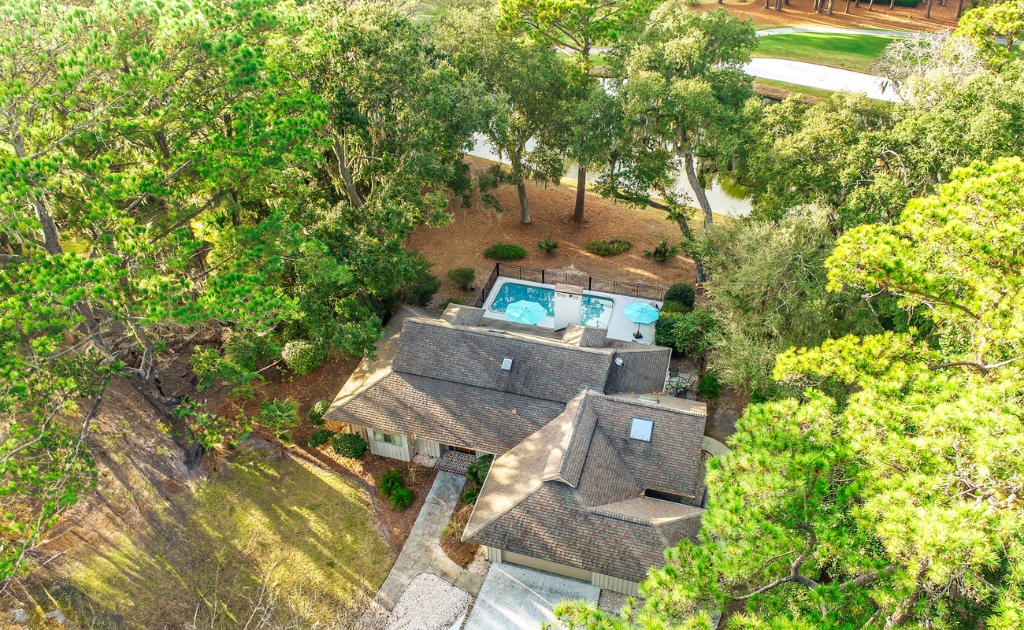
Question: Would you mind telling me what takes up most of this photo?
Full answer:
The bulk of the photo consists of trees.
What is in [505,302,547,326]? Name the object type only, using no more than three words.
umbrella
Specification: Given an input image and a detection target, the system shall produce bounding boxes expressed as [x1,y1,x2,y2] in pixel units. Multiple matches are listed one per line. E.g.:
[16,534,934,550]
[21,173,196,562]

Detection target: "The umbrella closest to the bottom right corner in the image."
[622,307,659,339]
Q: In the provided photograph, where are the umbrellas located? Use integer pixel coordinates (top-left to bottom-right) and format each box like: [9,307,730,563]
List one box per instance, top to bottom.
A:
[505,302,547,326]
[622,307,659,339]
